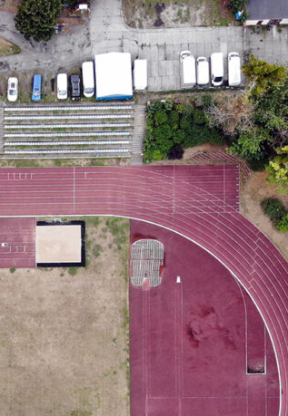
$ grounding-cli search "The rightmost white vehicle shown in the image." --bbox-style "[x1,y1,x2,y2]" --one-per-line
[224,57,239,88]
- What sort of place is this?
sports ground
